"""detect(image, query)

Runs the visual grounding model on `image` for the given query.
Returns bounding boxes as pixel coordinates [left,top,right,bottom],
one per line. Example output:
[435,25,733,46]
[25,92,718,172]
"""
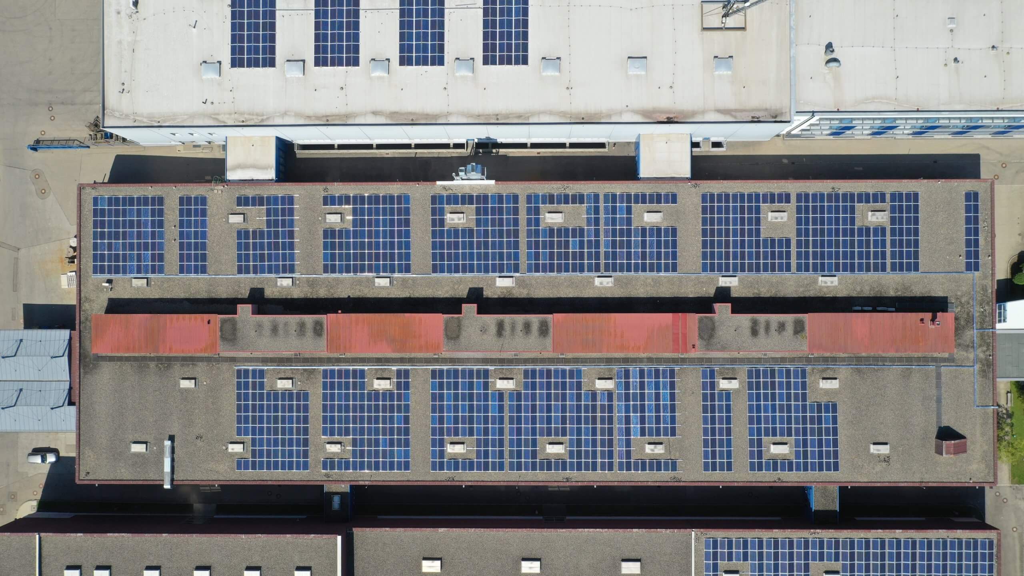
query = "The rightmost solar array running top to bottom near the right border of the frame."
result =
[962,191,981,272]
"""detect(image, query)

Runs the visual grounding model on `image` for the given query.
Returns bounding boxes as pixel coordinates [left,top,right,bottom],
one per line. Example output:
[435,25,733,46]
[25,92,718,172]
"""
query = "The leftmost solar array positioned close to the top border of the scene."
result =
[231,0,276,68]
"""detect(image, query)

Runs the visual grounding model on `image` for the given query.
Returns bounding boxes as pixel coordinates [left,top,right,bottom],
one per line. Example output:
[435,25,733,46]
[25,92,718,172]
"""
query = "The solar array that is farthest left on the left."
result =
[93,195,165,275]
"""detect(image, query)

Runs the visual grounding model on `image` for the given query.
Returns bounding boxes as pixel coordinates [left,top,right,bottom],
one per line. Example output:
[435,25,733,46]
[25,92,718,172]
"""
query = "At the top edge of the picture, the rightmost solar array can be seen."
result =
[482,0,528,66]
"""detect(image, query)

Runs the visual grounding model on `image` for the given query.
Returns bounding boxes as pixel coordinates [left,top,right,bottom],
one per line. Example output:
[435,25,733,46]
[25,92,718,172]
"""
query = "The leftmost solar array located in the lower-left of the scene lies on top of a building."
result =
[236,368,310,472]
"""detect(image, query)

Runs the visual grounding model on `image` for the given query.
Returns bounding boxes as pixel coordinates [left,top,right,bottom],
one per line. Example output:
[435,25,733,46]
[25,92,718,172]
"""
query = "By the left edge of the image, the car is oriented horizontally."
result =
[26,451,60,465]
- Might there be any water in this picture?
No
